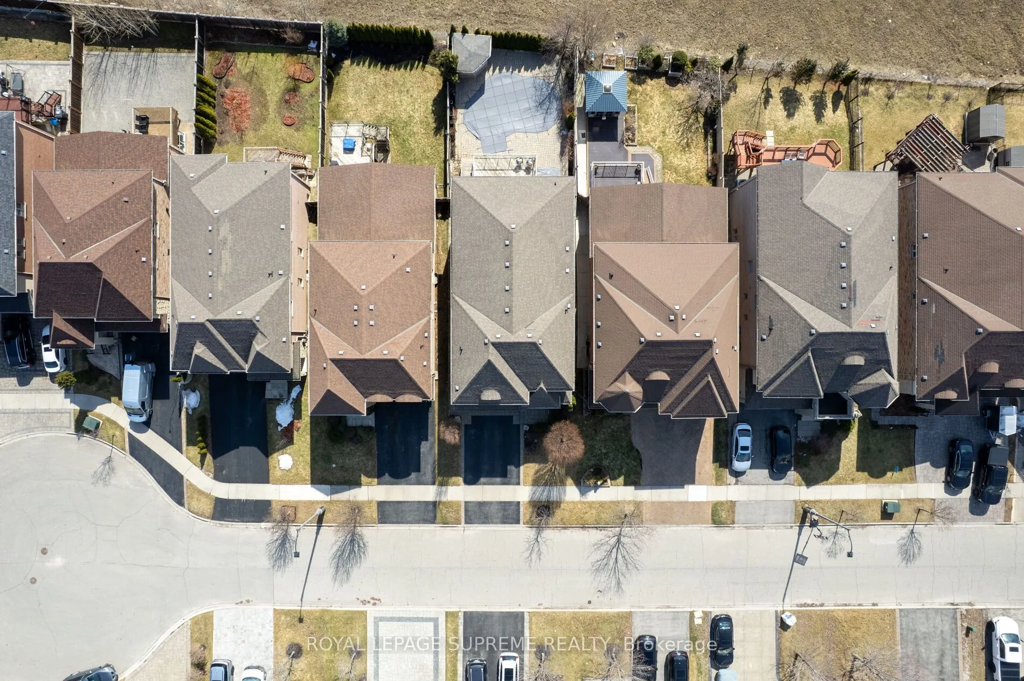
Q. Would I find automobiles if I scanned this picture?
Yes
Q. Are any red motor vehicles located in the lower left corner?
No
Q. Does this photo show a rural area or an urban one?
urban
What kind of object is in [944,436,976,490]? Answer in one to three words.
car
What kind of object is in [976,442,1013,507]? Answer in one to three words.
truck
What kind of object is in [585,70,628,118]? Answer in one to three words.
gazebo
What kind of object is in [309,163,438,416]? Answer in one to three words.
house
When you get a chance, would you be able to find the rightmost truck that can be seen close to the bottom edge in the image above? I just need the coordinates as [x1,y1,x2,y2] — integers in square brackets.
[985,618,1021,681]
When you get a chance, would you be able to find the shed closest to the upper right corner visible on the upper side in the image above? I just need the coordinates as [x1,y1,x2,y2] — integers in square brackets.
[965,103,1006,144]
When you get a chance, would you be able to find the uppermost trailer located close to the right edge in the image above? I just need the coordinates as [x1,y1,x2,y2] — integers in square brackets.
[981,404,1017,443]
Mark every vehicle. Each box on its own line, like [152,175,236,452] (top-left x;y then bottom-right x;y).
[985,618,1021,681]
[209,658,235,681]
[466,657,487,681]
[121,359,158,422]
[65,661,121,681]
[976,442,1013,507]
[0,316,37,374]
[944,436,976,490]
[728,421,755,474]
[634,634,660,681]
[665,649,688,681]
[39,325,72,373]
[767,423,794,476]
[497,651,519,681]
[709,614,736,669]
